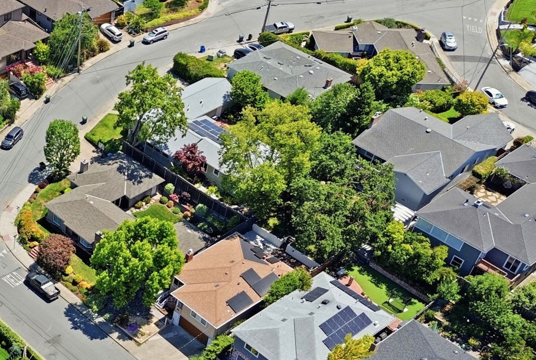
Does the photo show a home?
Yes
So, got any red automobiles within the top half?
No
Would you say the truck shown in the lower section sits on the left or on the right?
left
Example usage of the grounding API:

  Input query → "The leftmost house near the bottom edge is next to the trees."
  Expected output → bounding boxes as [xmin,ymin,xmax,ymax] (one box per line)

[168,235,296,348]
